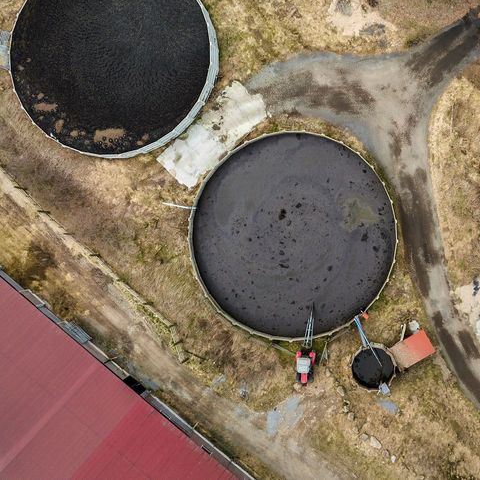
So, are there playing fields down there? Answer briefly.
No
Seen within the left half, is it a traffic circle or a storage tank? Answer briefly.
storage tank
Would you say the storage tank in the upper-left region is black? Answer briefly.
Yes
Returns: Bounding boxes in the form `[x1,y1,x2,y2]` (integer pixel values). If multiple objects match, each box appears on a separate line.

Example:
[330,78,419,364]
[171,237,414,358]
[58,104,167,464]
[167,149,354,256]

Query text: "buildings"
[0,260,264,480]
[390,328,436,369]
